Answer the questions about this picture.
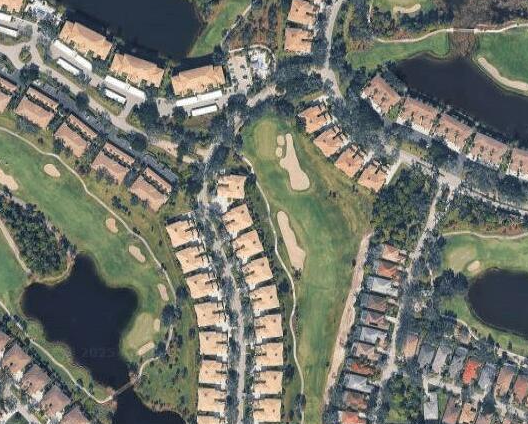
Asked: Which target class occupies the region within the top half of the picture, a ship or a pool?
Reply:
pool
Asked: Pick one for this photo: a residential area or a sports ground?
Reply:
residential area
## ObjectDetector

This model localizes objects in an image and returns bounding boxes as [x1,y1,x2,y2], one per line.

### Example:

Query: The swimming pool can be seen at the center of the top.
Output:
[251,51,271,77]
